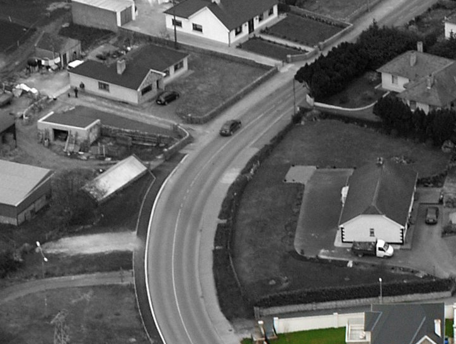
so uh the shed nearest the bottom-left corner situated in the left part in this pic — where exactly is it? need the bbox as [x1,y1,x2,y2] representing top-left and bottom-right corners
[0,159,59,228]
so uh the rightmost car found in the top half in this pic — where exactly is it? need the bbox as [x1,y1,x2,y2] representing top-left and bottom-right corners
[219,121,241,136]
